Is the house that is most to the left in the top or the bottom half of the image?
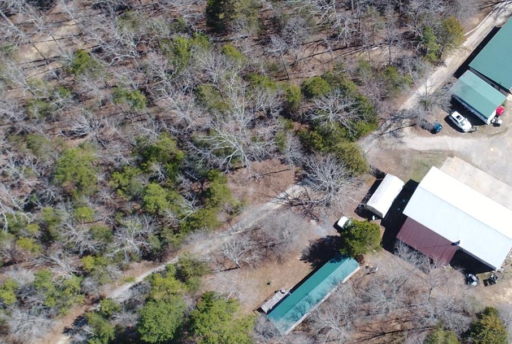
bottom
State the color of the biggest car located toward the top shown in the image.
white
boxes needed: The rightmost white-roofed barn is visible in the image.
[402,166,512,275]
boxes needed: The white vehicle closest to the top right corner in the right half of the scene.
[450,110,474,131]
